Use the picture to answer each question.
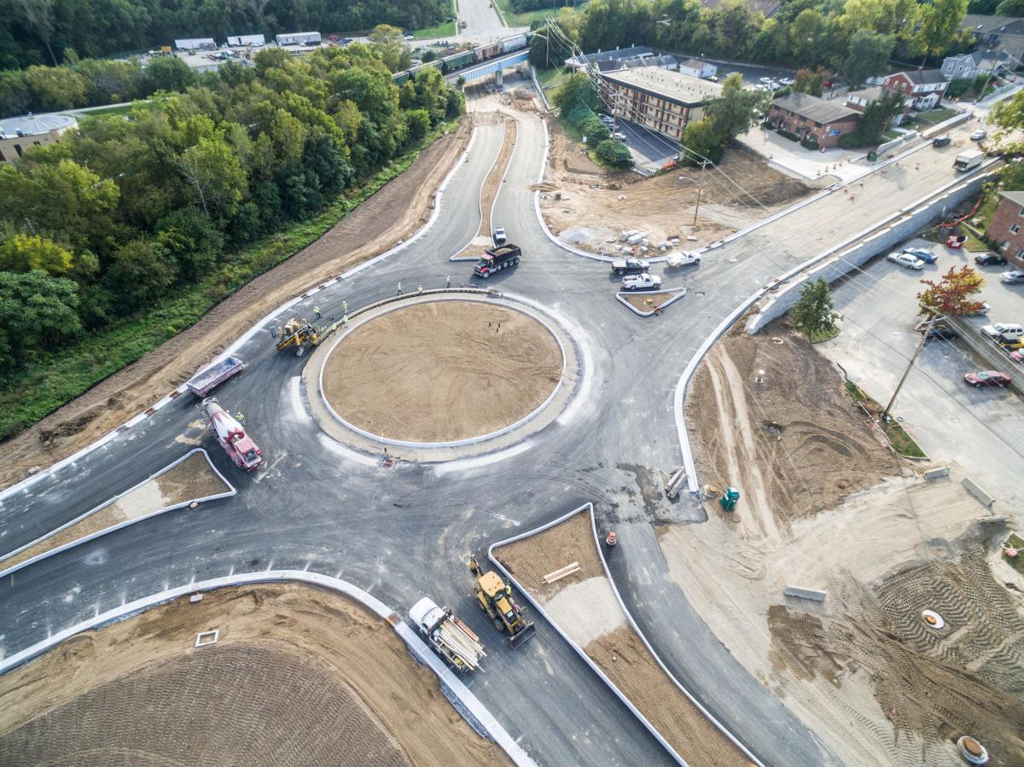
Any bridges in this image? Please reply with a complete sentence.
Yes, the picture does show a bridge.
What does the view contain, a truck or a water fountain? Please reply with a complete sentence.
This aerial view contains a truck.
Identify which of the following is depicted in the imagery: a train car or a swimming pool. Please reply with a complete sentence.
Of the two, only a train car appears.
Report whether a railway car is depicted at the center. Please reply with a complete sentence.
No, no railway car is visible at the center.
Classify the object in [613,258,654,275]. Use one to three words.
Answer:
vehicle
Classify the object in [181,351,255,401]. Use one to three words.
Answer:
trailer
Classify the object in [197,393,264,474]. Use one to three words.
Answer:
truck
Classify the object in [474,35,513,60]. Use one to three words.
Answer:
rail car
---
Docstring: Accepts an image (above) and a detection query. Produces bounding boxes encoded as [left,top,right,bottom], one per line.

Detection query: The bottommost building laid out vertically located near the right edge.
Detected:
[979,192,1024,291]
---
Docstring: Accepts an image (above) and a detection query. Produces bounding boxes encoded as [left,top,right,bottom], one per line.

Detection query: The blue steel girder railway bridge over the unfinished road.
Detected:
[456,51,539,90]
